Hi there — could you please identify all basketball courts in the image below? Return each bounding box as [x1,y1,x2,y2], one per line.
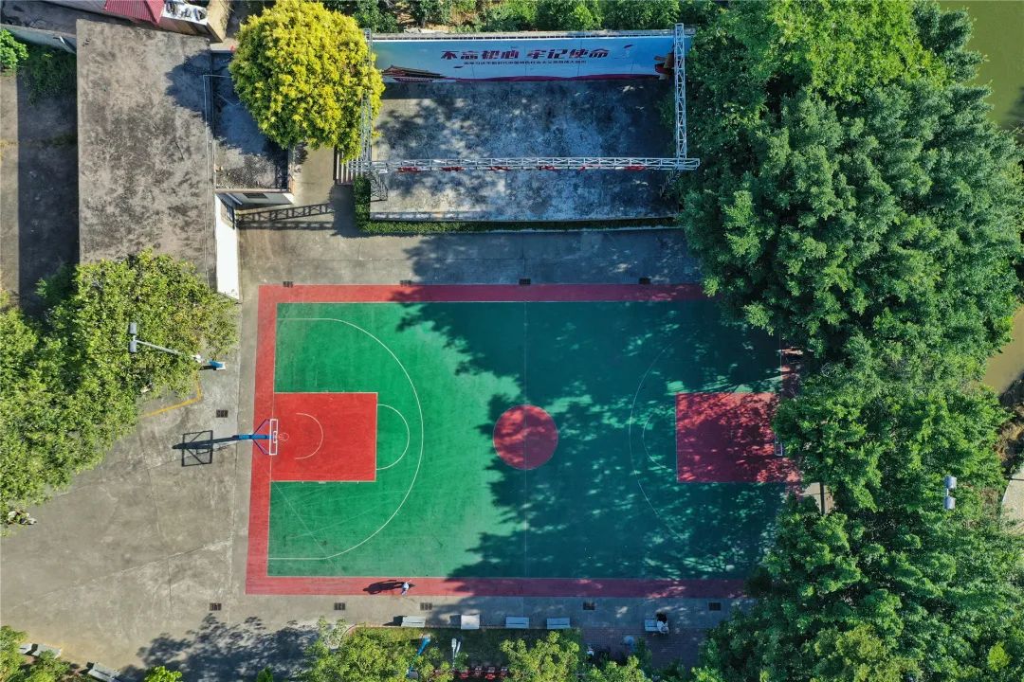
[246,284,808,598]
